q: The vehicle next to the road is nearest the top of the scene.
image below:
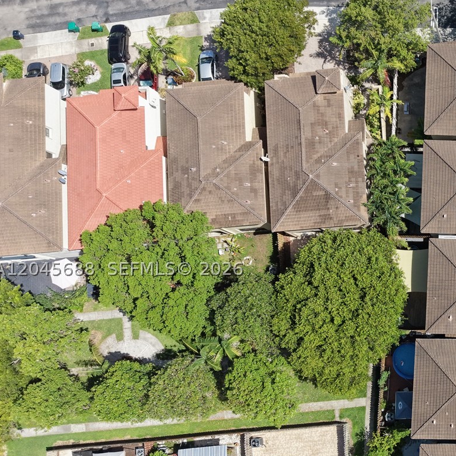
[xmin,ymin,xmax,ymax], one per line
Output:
[106,22,131,66]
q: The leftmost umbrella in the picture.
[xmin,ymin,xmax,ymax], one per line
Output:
[48,257,79,289]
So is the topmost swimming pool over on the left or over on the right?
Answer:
right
